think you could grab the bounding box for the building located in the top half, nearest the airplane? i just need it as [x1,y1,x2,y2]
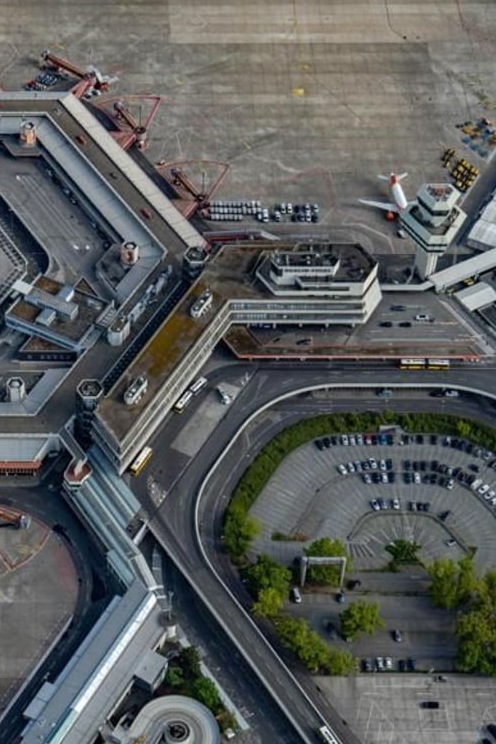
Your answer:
[399,183,468,285]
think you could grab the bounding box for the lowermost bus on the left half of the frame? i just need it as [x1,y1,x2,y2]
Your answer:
[130,447,152,476]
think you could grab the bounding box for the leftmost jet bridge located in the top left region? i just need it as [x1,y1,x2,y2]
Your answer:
[41,52,97,93]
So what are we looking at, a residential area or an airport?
airport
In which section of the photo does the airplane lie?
top right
